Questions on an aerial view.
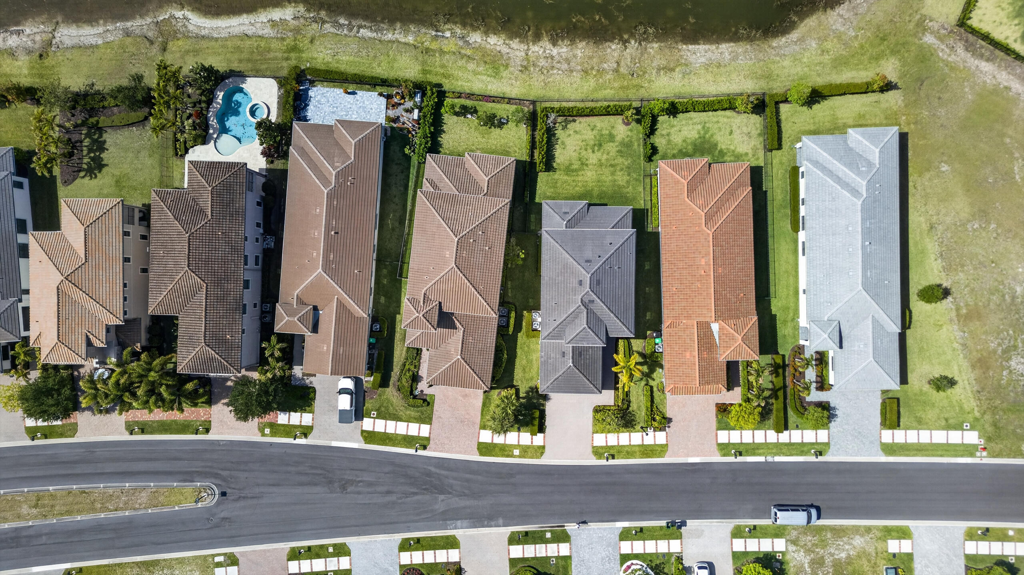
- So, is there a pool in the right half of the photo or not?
No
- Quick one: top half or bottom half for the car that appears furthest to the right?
bottom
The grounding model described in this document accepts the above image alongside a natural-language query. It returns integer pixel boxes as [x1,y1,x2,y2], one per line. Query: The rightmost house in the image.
[795,125,902,391]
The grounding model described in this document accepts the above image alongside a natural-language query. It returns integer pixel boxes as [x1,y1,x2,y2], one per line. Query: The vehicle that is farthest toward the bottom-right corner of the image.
[769,506,814,527]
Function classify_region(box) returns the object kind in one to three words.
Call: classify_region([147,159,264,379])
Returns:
house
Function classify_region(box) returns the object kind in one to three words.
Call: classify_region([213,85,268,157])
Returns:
swimming pool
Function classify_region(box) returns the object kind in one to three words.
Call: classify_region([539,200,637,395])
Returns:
house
